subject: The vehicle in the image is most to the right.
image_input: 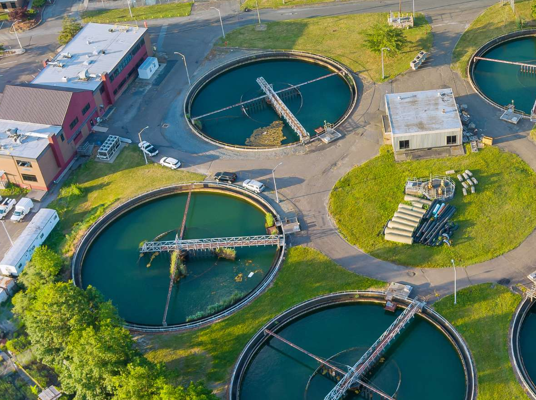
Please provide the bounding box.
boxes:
[241,180,266,192]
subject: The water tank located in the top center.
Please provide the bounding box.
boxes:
[183,49,358,152]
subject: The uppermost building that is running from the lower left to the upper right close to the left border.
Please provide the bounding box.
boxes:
[0,21,155,193]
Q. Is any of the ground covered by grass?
Yes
